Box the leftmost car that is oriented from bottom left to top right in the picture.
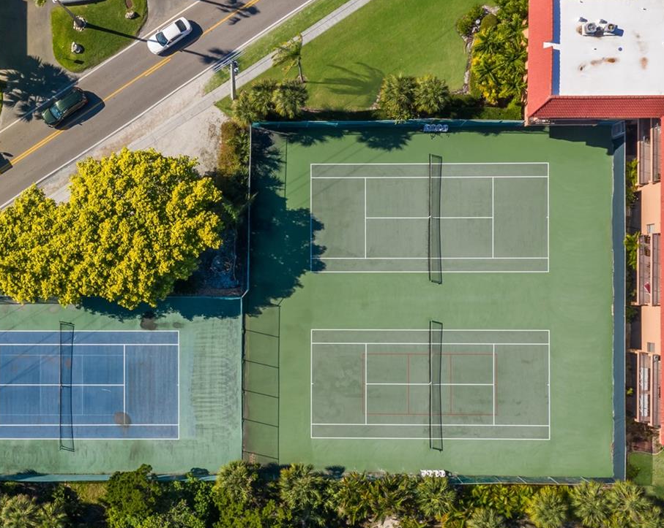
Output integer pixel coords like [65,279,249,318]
[41,86,89,126]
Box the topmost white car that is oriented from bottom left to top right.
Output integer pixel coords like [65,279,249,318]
[146,16,194,56]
